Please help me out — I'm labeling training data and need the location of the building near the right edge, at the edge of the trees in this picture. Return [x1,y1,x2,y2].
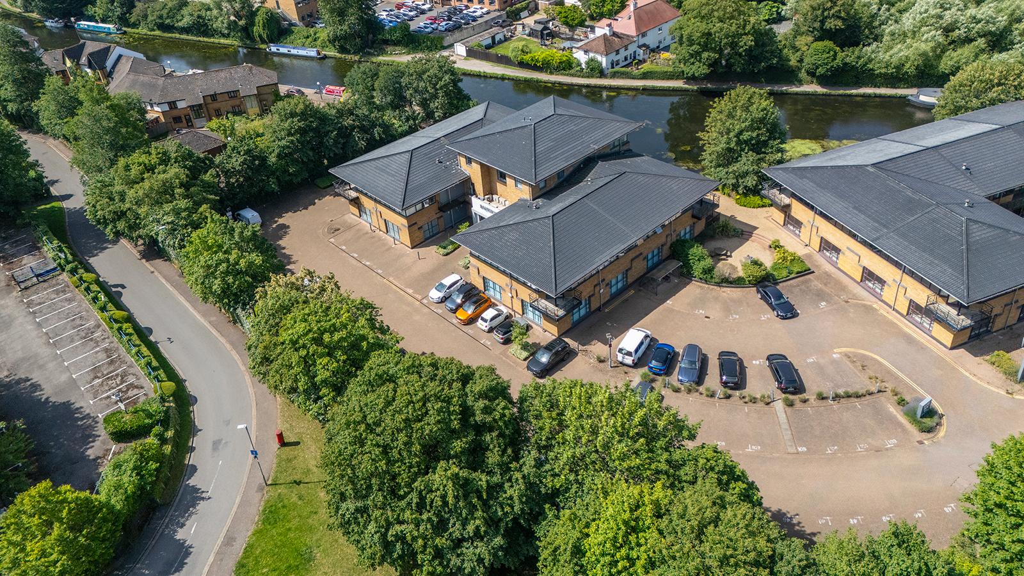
[766,95,1024,349]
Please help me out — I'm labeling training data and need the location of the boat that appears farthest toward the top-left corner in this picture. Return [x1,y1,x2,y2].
[40,17,68,30]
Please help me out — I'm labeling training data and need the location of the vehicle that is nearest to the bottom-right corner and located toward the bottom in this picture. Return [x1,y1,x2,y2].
[764,353,803,397]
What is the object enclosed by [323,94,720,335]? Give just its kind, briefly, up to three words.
building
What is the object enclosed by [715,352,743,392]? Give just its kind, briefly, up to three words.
car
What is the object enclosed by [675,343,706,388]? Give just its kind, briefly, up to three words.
car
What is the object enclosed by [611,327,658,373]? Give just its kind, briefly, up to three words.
van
